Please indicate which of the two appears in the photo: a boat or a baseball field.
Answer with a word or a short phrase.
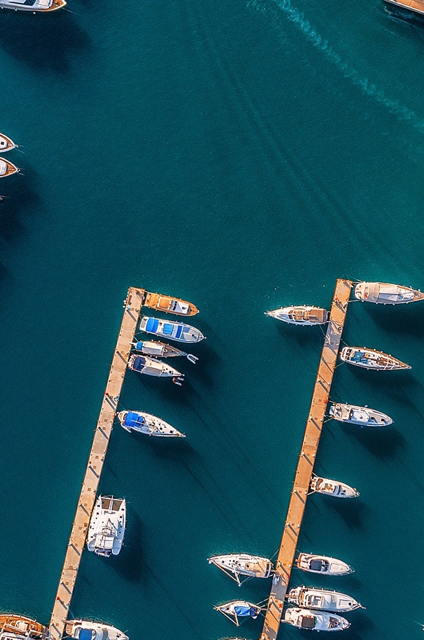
boat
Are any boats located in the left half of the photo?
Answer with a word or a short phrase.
Yes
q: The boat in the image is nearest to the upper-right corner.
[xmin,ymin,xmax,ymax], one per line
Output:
[348,281,424,306]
